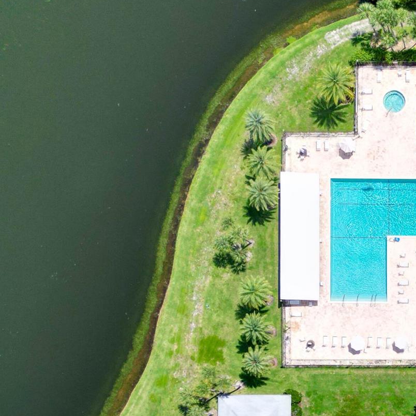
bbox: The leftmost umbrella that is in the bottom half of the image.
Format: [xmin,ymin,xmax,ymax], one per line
[350,335,366,352]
